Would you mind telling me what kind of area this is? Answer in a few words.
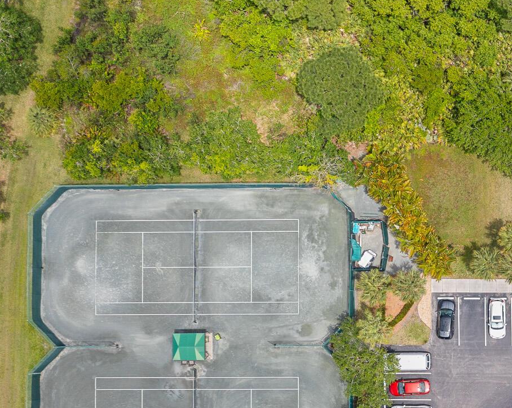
sports ground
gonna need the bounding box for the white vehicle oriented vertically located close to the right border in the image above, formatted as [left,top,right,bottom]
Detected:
[487,299,506,339]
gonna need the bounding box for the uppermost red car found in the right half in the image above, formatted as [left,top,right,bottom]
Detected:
[390,378,431,397]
